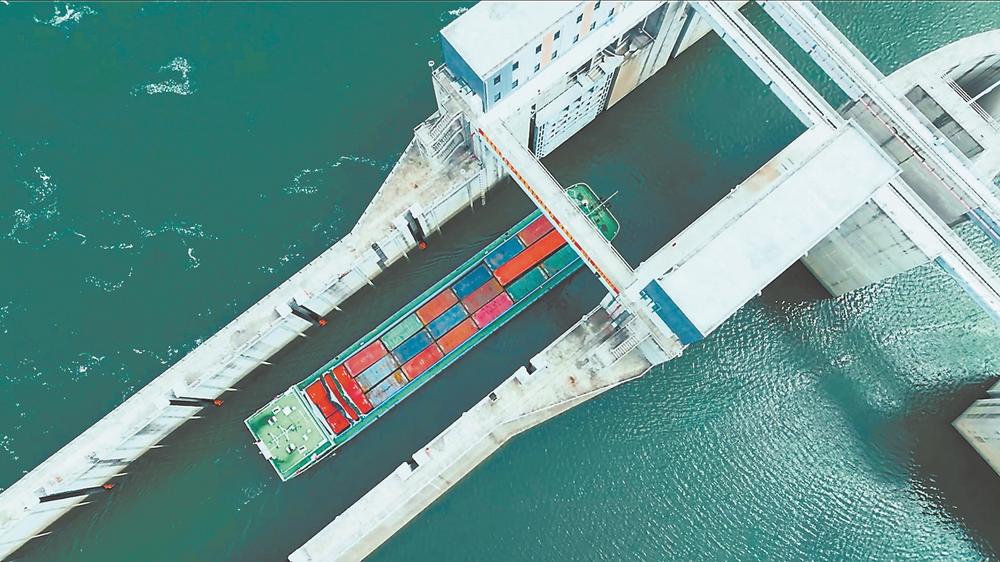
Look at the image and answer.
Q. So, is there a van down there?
No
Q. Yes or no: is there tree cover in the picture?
No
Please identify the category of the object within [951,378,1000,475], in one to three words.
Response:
pier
